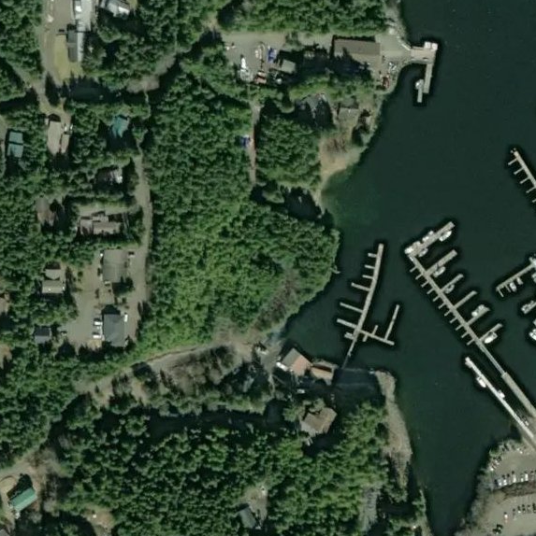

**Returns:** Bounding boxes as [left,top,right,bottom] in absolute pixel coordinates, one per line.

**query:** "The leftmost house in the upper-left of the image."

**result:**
[7,132,23,158]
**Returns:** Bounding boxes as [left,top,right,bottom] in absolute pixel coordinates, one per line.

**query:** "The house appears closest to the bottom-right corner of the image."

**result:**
[303,406,333,434]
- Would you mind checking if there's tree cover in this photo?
Yes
